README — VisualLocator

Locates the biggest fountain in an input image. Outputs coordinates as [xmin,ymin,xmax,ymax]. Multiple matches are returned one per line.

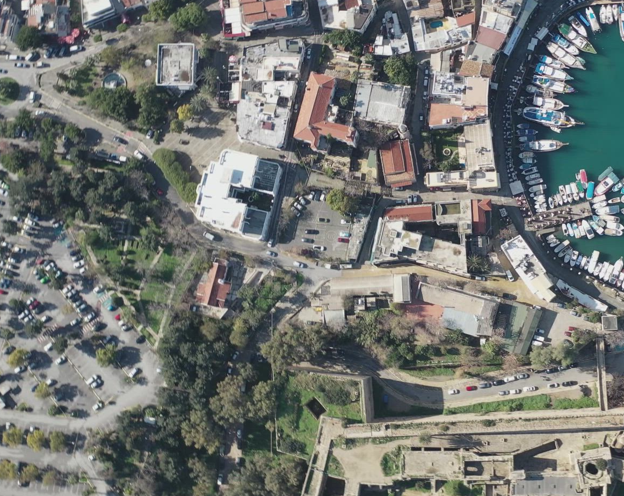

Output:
[102,69,126,93]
